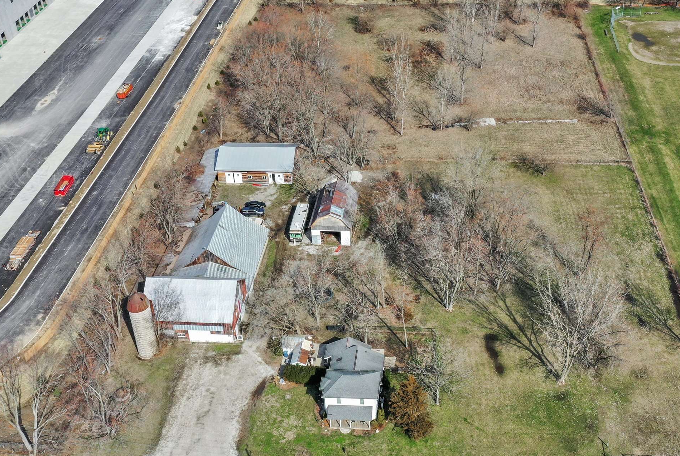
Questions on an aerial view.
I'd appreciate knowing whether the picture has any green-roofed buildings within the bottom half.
No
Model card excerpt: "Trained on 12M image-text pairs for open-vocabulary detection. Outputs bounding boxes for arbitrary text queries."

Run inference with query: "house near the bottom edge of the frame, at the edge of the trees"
[319,341,385,437]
